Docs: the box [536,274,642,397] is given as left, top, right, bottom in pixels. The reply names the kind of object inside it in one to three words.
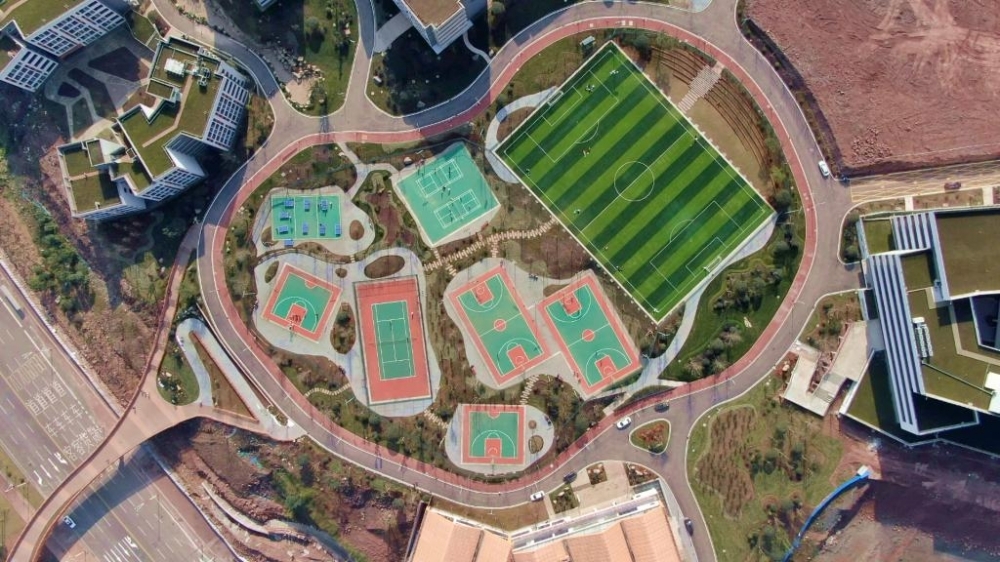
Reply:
basketball court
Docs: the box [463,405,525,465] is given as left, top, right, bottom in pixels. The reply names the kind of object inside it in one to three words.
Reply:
basketball court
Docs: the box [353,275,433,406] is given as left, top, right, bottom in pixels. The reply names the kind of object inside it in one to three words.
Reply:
tennis court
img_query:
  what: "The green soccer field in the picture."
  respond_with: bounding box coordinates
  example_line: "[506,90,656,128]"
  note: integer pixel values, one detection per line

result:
[494,40,775,324]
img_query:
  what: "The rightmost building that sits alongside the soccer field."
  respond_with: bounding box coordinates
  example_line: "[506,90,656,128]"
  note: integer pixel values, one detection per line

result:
[835,208,1000,457]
